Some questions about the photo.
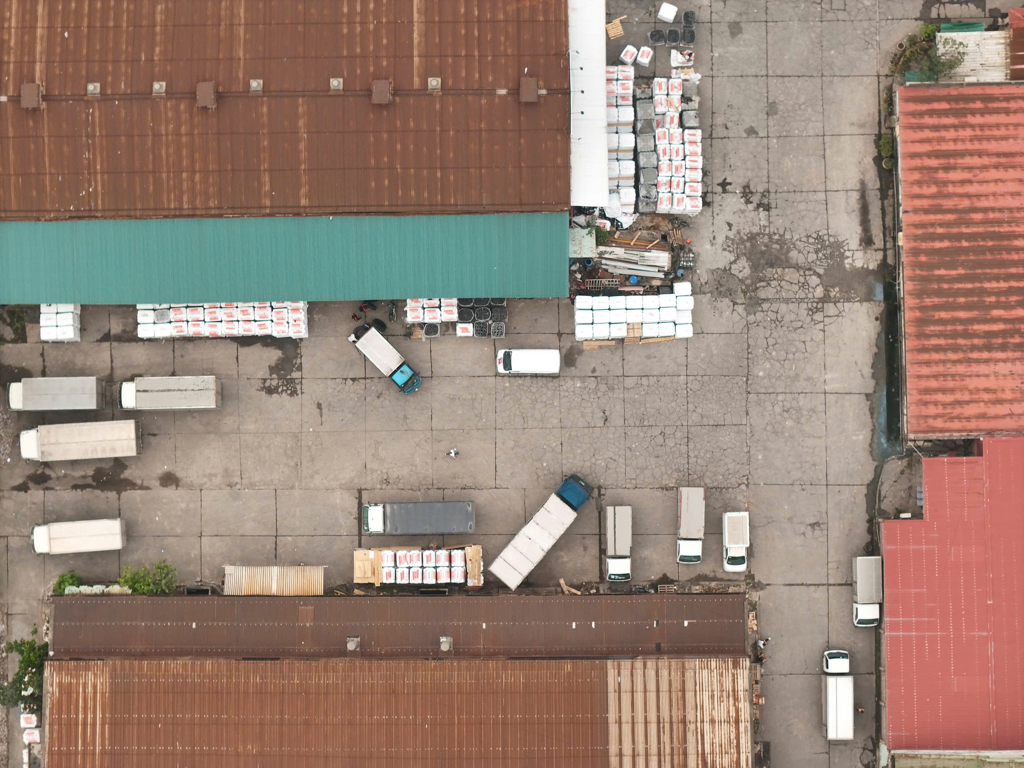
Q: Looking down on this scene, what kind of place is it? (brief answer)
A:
industrial area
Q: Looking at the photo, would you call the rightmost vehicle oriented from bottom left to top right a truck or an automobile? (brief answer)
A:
truck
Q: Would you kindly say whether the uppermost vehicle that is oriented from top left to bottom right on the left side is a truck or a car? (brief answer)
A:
truck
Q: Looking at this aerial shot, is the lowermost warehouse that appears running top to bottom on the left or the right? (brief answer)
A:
right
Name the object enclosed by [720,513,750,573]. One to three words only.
truck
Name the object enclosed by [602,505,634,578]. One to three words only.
truck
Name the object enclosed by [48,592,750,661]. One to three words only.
building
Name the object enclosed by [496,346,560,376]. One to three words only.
van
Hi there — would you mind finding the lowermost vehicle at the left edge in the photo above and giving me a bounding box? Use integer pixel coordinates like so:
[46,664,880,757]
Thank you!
[28,518,130,558]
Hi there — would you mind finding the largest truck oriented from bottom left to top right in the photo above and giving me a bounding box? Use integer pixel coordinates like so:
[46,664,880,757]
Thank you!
[489,468,600,590]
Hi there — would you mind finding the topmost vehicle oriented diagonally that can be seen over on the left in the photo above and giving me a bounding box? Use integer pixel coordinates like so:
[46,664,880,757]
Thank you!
[355,327,426,398]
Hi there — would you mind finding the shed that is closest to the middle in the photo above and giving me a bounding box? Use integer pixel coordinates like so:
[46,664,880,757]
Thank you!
[569,228,596,261]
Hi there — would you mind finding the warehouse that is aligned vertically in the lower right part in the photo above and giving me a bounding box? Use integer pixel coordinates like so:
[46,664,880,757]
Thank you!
[880,435,1024,750]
